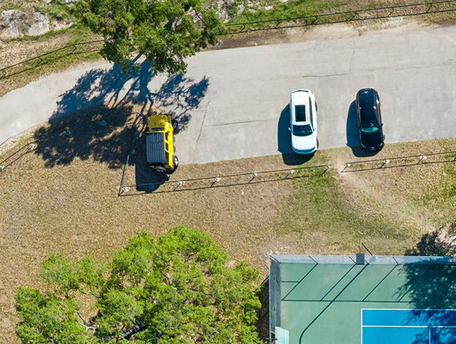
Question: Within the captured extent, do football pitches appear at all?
No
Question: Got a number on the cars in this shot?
3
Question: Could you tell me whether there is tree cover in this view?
Yes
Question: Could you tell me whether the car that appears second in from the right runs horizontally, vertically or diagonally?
vertically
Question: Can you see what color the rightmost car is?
black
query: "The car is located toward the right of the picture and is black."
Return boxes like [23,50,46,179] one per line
[359,89,386,151]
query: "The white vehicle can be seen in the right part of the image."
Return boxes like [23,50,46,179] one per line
[291,90,320,153]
